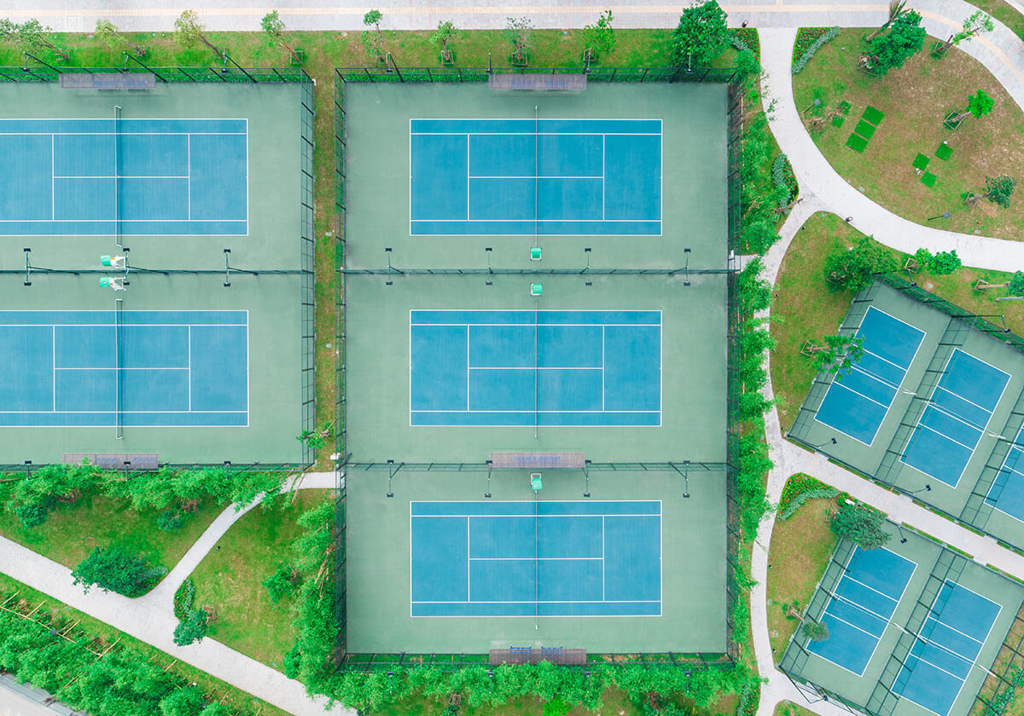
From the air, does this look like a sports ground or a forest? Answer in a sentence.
This image shows a sports ground.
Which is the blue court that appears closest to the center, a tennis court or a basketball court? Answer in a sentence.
The blue court that appears closest to the center is a tennis court.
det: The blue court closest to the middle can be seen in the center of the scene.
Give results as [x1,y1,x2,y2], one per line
[410,309,663,427]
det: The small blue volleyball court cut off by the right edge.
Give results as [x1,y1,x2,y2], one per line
[984,424,1024,523]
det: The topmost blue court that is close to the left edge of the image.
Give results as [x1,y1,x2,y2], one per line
[0,117,248,236]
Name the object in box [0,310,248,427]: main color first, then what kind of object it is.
blue tennis court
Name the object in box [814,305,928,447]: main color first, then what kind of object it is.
blue sports court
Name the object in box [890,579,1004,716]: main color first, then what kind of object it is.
blue sports court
